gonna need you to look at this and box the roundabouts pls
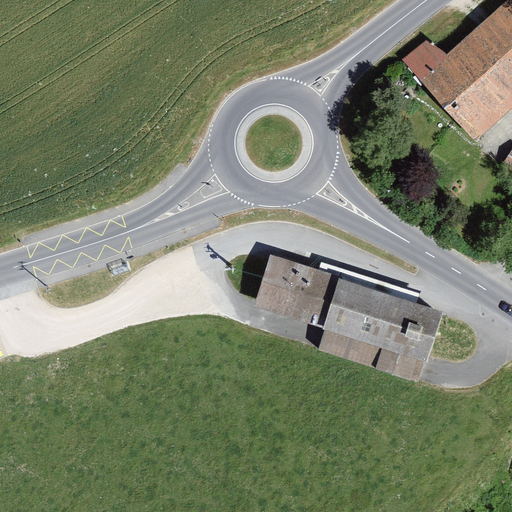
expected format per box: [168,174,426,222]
[208,76,340,208]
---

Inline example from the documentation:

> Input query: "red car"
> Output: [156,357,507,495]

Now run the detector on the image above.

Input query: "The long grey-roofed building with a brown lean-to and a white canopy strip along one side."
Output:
[317,262,445,381]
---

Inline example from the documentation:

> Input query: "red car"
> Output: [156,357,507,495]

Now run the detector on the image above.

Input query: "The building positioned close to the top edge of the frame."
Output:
[403,0,512,140]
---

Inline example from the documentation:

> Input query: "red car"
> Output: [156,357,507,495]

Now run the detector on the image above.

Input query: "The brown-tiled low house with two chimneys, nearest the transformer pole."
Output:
[255,254,332,325]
